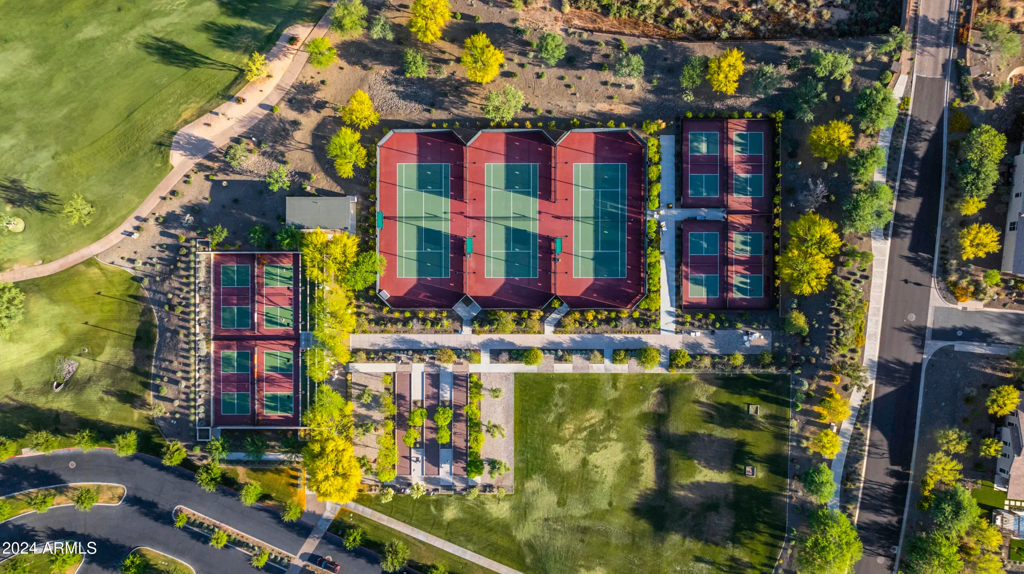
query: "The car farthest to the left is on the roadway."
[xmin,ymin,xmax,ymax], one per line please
[316,556,340,573]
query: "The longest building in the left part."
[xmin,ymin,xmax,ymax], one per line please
[286,197,361,232]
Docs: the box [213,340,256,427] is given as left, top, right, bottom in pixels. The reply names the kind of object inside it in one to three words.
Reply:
sports court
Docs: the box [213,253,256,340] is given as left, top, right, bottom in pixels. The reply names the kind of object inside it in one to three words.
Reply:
sports court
